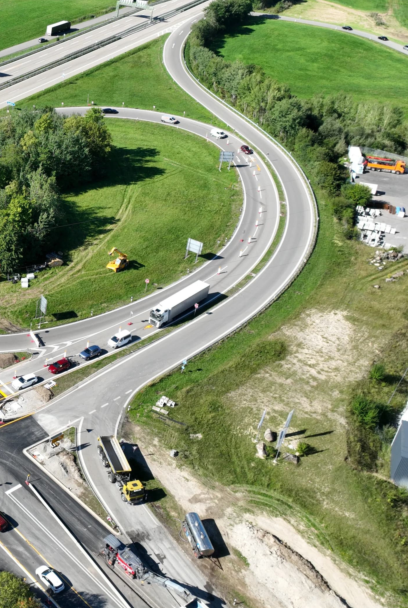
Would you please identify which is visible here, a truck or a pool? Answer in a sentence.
Visible in the photo is a truck.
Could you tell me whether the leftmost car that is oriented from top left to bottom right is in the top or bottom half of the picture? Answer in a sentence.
It is in the bottom half that the leftmost car that is oriented from top left to bottom right appears.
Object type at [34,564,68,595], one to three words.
car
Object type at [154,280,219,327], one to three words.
truck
